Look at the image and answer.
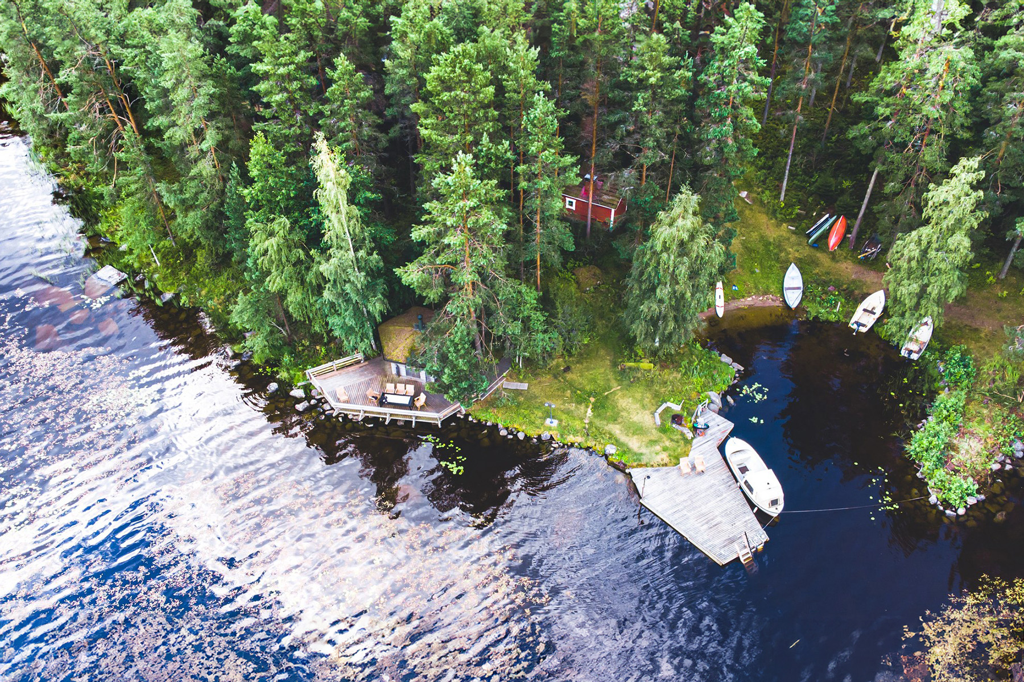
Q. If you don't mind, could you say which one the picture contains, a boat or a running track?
boat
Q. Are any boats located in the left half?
No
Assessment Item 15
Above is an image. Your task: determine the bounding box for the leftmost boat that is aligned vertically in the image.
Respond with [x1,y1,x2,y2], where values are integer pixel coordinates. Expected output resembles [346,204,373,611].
[783,258,805,307]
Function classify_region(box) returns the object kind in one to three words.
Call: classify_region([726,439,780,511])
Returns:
boat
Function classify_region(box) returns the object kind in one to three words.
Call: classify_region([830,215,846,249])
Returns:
boat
